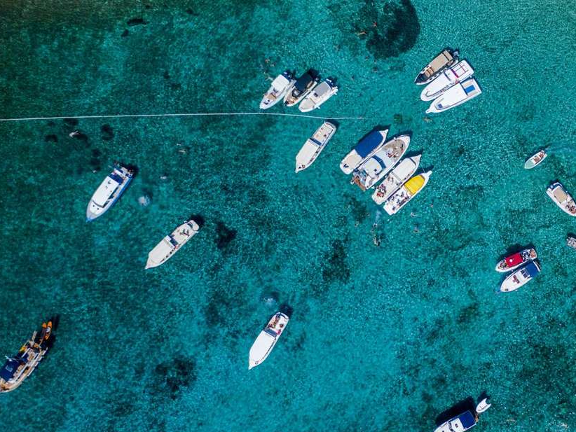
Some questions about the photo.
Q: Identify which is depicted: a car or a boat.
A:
boat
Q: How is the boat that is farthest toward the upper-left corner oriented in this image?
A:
diagonally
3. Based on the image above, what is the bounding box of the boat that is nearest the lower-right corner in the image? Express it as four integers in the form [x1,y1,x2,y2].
[476,398,491,414]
